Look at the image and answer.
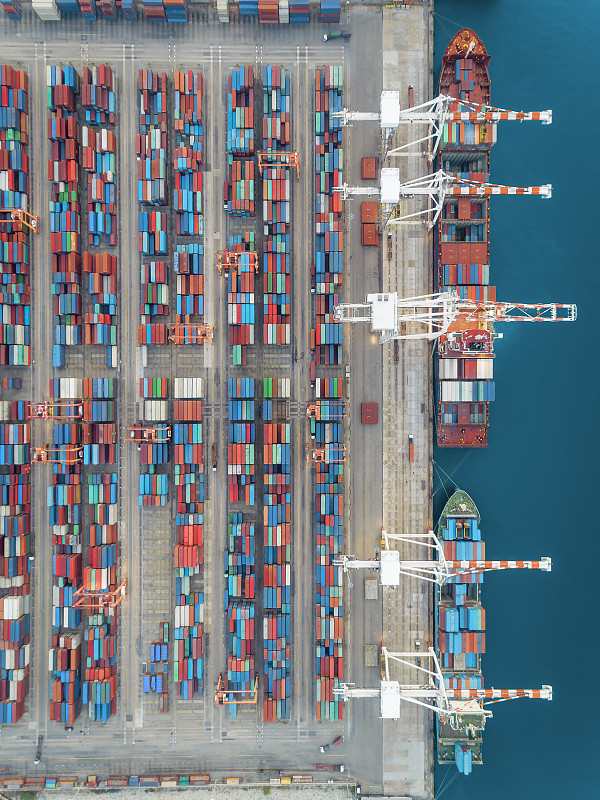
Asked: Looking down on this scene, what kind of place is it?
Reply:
port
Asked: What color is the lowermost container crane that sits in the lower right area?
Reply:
white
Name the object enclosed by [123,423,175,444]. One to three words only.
container crane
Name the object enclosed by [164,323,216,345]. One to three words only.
container crane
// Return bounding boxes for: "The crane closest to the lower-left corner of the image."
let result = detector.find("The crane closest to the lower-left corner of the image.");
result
[72,579,130,607]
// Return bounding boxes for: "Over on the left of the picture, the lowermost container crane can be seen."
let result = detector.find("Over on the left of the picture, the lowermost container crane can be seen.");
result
[214,664,259,697]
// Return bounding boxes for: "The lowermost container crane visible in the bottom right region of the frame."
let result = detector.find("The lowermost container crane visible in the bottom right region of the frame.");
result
[332,638,557,716]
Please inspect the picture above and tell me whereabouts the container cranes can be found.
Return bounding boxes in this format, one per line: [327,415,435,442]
[332,638,557,716]
[332,523,557,585]
[256,152,302,182]
[304,400,349,420]
[30,401,85,421]
[30,443,86,465]
[330,293,577,351]
[332,92,557,170]
[215,249,262,274]
[72,579,130,607]
[214,664,259,697]
[305,442,349,464]
[0,209,40,236]
[123,423,175,444]
[164,323,216,345]
[332,168,557,235]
